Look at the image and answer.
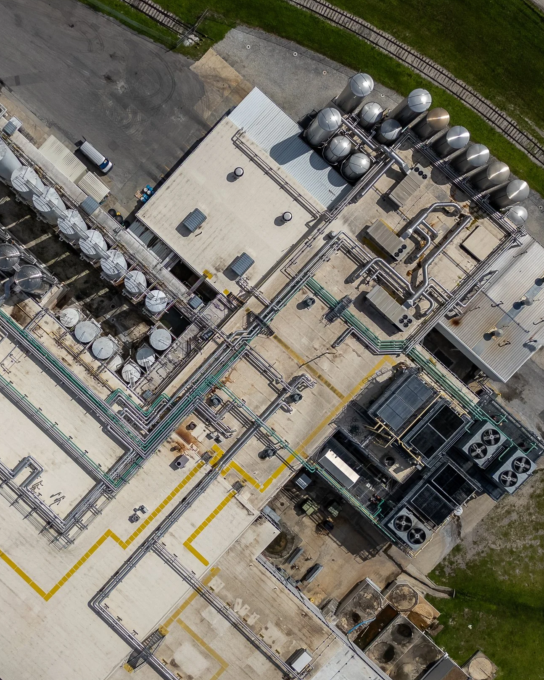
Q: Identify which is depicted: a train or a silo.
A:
silo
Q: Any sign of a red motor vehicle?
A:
No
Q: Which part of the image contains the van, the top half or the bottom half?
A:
top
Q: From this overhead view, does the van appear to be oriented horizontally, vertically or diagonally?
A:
diagonally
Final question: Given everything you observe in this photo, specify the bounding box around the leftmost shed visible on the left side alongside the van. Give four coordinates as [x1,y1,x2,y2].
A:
[39,135,88,182]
